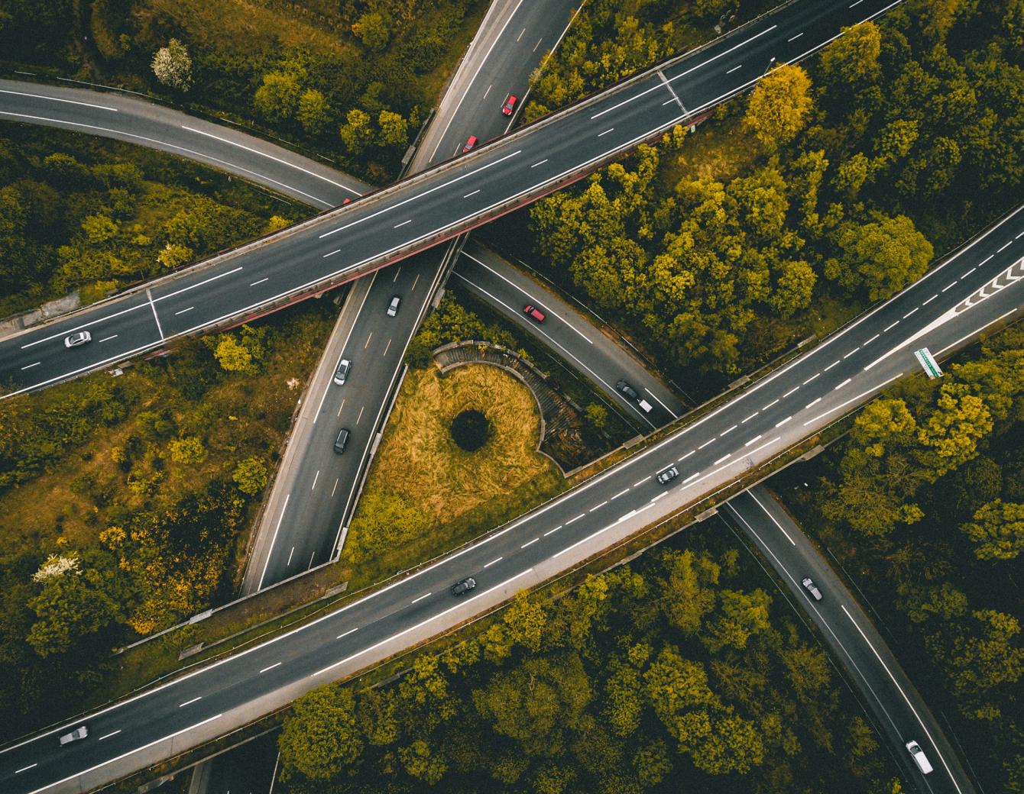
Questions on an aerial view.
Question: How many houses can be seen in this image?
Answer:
0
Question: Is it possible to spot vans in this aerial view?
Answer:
Yes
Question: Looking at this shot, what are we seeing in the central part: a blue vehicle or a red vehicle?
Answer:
red vehicle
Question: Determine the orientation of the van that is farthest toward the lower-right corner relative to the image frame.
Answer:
at an angle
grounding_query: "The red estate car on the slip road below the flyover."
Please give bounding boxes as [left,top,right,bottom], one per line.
[522,304,547,323]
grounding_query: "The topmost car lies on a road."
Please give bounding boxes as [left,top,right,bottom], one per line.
[501,90,519,115]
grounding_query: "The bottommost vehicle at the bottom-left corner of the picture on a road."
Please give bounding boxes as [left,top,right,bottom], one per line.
[56,726,87,748]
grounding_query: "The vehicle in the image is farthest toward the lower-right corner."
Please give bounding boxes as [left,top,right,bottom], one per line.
[906,740,941,779]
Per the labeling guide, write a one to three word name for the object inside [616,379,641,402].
car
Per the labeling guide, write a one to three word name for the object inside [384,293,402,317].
car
